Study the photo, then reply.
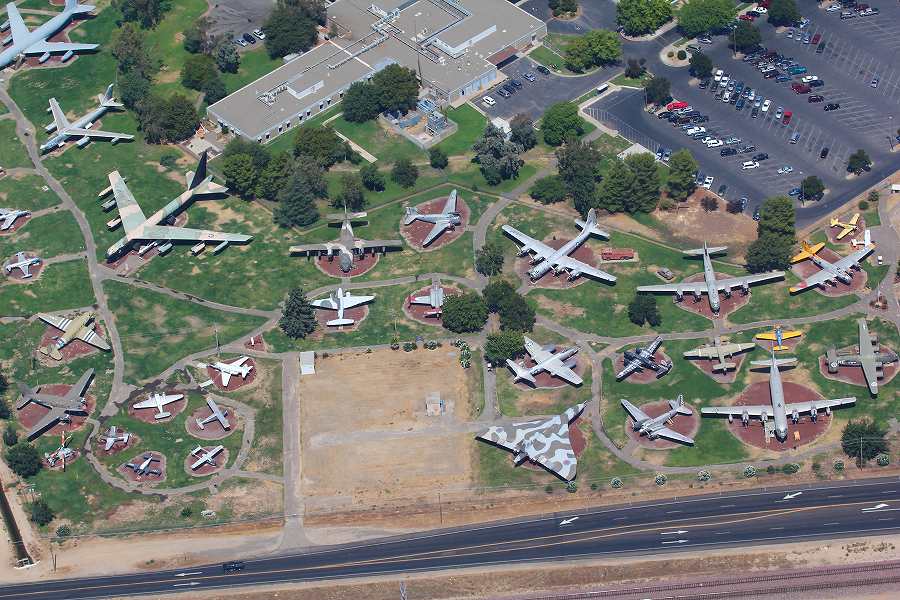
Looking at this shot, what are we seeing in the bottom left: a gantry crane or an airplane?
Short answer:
airplane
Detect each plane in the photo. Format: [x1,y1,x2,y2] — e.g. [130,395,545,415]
[209,357,256,386]
[756,325,801,349]
[47,86,134,151]
[684,336,756,372]
[0,0,99,69]
[125,452,163,478]
[621,394,697,439]
[34,311,111,353]
[4,251,42,277]
[475,402,589,480]
[787,236,878,289]
[854,231,879,253]
[99,425,130,449]
[637,233,785,312]
[617,335,672,375]
[105,156,256,261]
[827,316,899,389]
[311,286,374,322]
[405,279,467,311]
[134,390,184,416]
[502,213,616,283]
[189,444,223,467]
[0,206,36,225]
[16,367,93,435]
[197,399,232,429]
[504,335,584,380]
[701,342,857,441]
[830,213,860,236]
[403,188,462,242]
[290,207,402,274]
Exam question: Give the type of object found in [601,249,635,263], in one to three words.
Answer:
vehicle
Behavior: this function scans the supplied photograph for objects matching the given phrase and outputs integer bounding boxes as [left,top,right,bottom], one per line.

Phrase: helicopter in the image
[47,435,76,465]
